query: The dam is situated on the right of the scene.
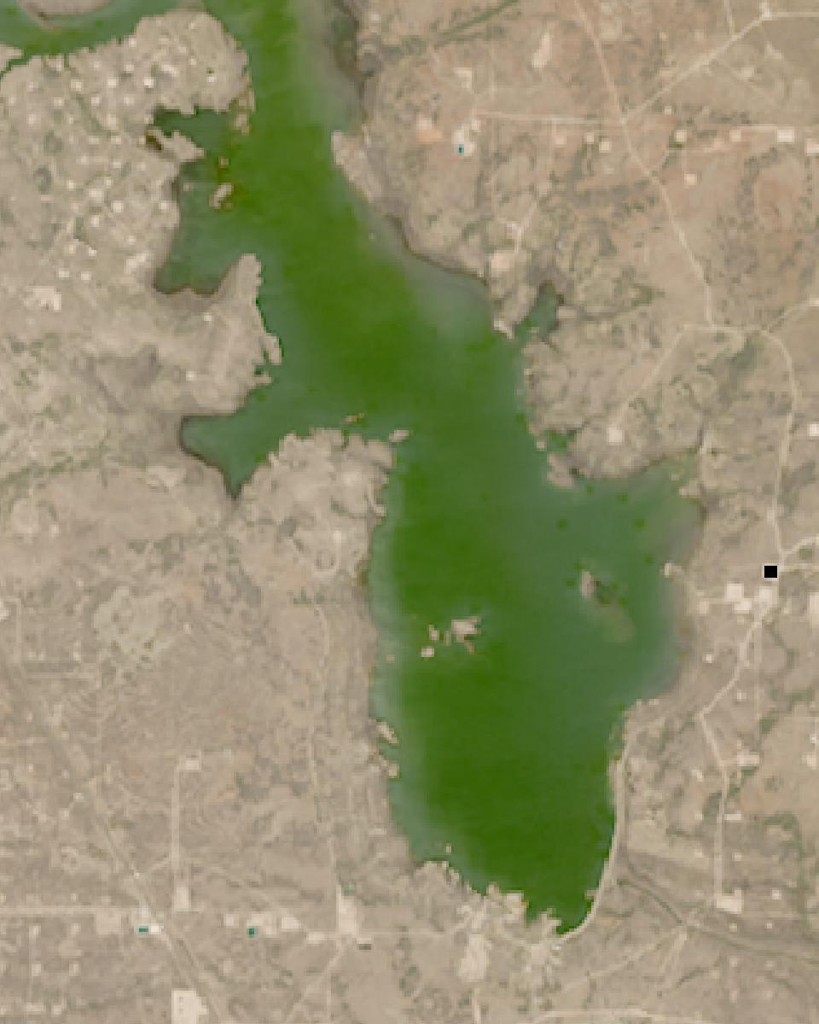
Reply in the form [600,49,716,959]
[553,742,634,946]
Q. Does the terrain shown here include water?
Yes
